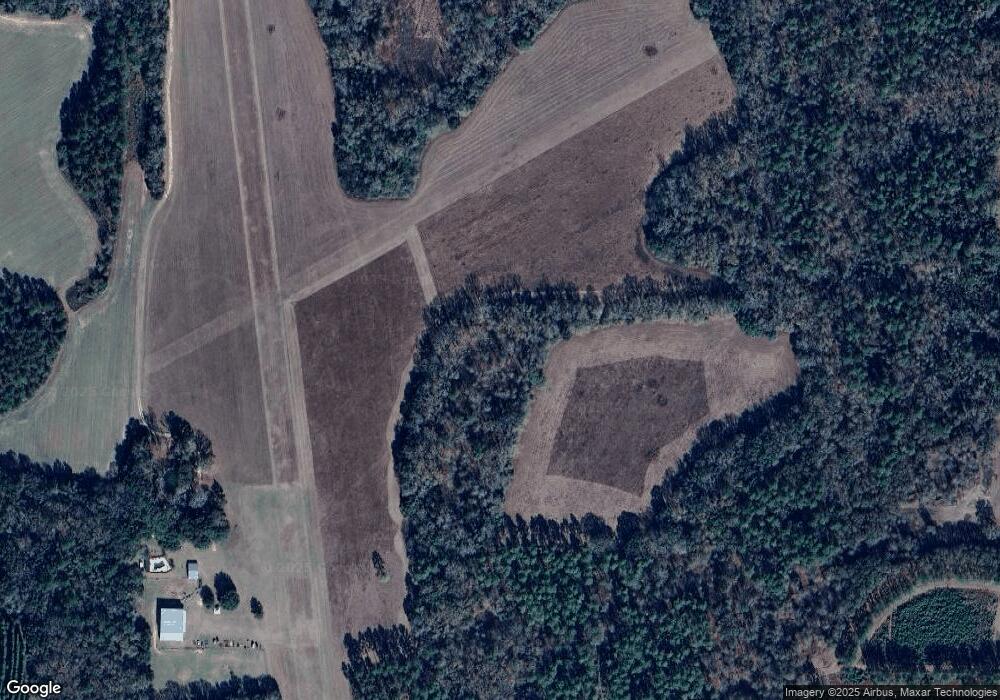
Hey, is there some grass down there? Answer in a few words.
Yes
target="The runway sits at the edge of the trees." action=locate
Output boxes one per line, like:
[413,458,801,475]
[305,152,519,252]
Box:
[144,0,723,700]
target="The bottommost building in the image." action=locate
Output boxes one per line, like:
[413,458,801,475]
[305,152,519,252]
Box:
[160,608,187,641]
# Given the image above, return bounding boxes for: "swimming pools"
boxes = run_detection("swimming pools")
[149,557,171,572]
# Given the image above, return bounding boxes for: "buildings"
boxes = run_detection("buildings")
[160,608,187,641]
[188,563,198,580]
